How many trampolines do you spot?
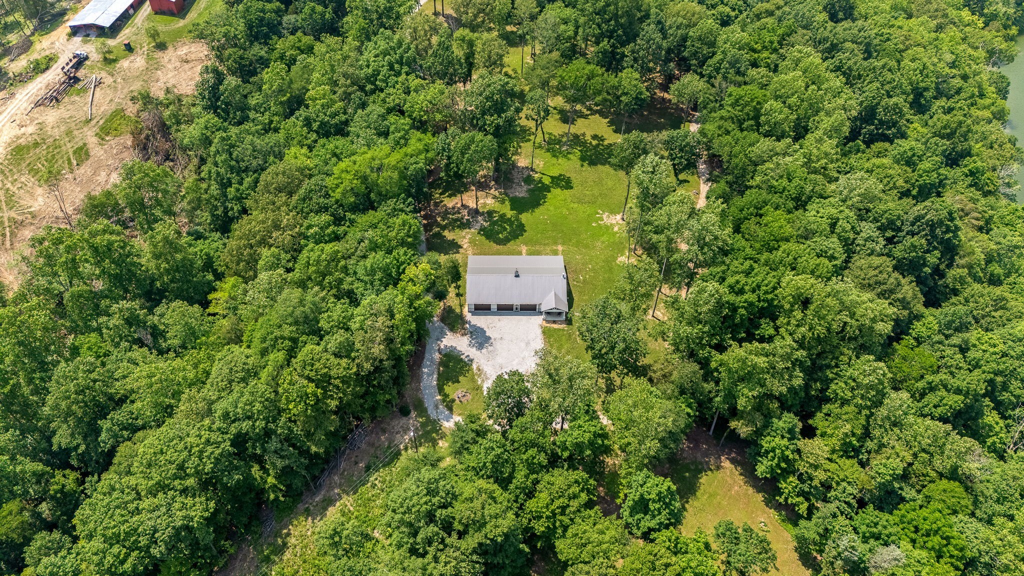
zero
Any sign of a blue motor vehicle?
No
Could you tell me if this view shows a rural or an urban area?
rural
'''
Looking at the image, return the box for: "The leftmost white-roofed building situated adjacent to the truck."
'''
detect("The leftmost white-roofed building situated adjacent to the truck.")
[64,0,145,40]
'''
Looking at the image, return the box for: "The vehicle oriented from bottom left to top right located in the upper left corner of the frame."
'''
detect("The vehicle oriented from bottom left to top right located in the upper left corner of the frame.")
[57,52,90,78]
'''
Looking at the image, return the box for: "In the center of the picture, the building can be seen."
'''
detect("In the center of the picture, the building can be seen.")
[466,255,568,323]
